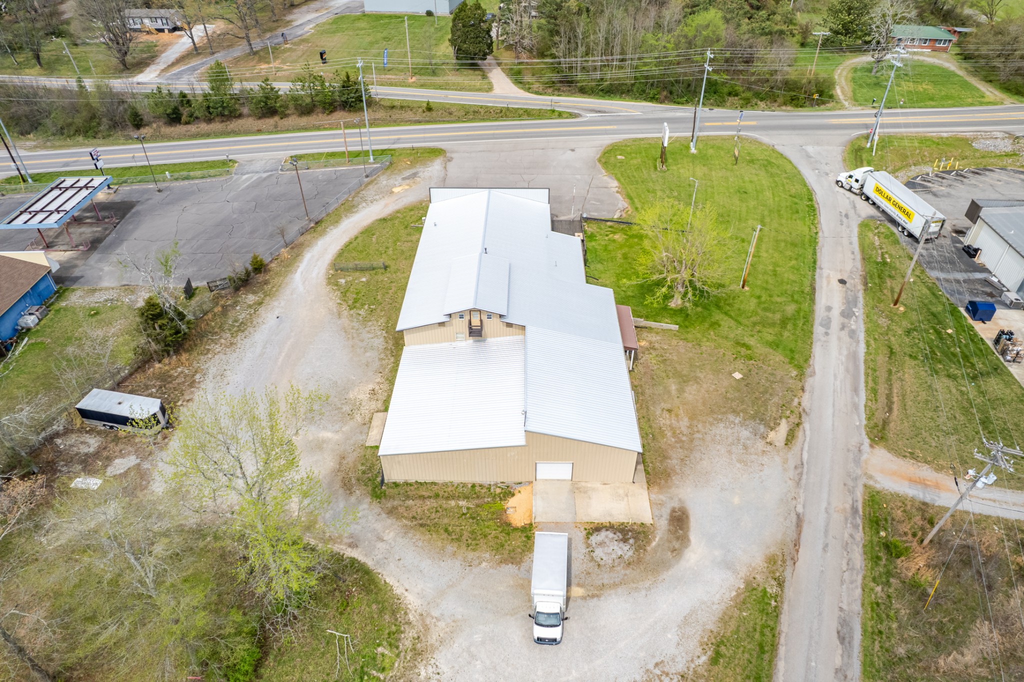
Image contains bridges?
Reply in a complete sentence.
No, the scene contains no bridge.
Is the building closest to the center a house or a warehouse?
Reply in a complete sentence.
The building closest to the center appears to be a warehouse.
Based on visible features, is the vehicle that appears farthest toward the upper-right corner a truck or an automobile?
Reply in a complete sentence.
The vehicle that appears farthest toward the upper-right corner appears to be a truck.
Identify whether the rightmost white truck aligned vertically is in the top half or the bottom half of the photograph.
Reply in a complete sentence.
The rightmost white truck aligned vertically is in the bottom half of the image.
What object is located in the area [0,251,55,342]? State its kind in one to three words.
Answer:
building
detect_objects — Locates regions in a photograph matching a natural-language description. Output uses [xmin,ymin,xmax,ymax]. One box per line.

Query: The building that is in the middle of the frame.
[376,186,644,490]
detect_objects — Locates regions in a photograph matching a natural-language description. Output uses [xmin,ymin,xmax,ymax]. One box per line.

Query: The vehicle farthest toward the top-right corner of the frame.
[837,171,947,246]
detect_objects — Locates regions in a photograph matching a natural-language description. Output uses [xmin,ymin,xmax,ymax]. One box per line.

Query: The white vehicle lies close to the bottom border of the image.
[526,531,568,650]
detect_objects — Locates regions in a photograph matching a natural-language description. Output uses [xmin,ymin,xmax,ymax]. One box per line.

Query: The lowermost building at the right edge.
[957,198,1024,292]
